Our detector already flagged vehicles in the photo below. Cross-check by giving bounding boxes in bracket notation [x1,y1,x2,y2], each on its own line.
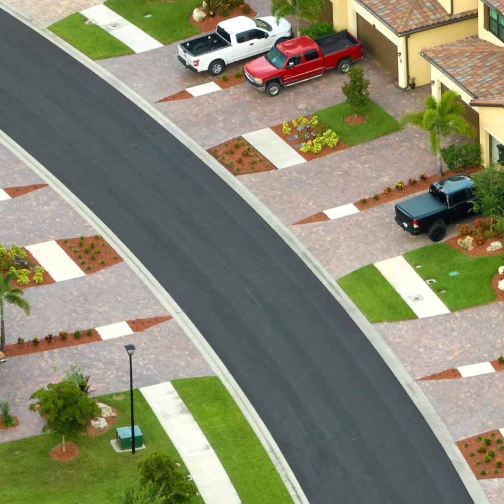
[394,175,504,241]
[239,30,366,97]
[176,16,294,75]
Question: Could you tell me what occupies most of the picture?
paved ground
